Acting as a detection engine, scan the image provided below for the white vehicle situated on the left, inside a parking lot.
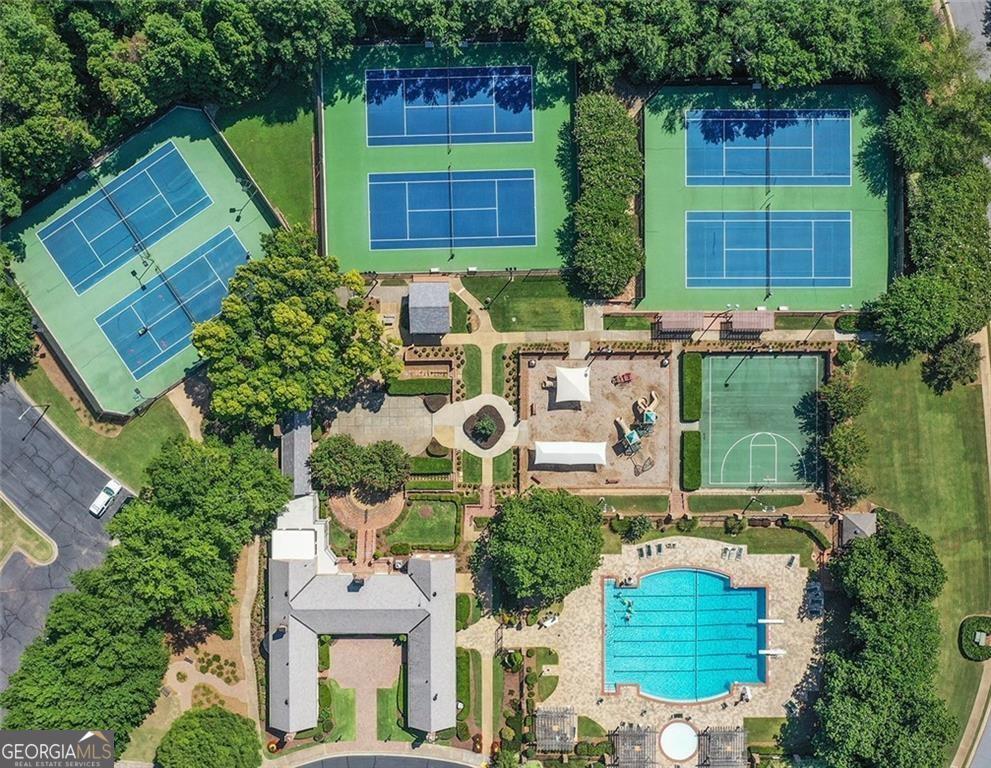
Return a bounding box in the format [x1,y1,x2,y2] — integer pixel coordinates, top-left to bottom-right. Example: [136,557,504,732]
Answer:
[85,482,118,518]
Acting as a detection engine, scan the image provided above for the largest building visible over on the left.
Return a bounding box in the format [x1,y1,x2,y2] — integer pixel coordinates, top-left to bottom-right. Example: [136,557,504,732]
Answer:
[254,490,457,741]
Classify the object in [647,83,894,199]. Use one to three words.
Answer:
tennis court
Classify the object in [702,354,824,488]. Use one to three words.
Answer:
basketball court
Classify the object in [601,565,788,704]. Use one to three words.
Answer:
swimming pool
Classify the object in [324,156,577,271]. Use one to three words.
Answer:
tennis court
